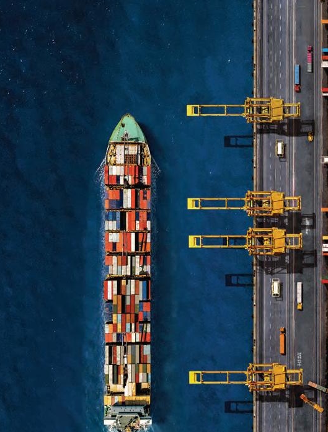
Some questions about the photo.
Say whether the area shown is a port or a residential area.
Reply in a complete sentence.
What you see here is a port.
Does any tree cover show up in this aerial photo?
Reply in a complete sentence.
No, the picture contains no tree cover.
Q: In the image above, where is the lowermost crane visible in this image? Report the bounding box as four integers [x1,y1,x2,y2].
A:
[189,362,302,393]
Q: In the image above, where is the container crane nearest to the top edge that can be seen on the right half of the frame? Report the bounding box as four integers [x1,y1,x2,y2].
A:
[186,97,300,128]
